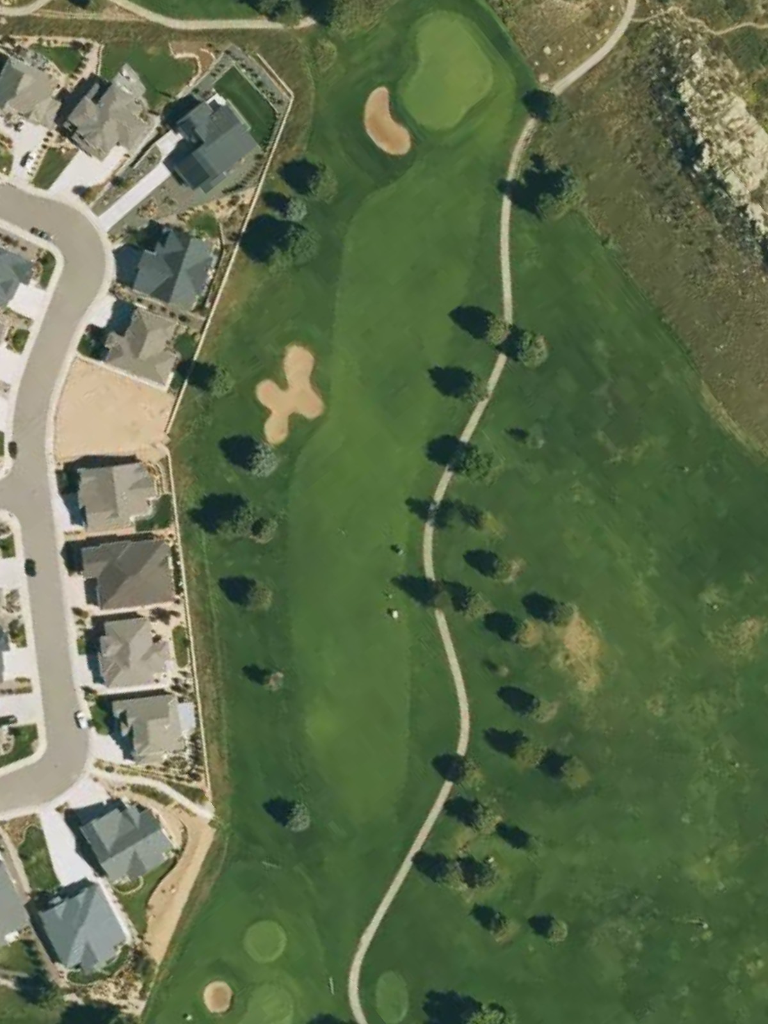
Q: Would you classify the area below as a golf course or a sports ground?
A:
golf course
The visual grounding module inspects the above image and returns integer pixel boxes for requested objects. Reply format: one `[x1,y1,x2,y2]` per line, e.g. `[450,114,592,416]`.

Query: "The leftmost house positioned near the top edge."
[0,50,66,132]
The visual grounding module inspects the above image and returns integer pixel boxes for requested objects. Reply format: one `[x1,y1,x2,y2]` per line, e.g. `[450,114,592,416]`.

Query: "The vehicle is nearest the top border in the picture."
[24,153,37,171]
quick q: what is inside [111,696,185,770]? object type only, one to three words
house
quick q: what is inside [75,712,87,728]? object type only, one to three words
vehicle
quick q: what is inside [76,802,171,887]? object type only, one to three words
house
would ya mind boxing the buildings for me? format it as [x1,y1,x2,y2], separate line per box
[39,880,127,972]
[0,864,34,951]
[0,50,66,132]
[99,302,179,388]
[0,248,32,311]
[80,463,158,532]
[98,618,171,688]
[57,56,162,163]
[128,224,215,310]
[76,802,171,887]
[81,538,176,610]
[0,625,9,680]
[111,696,185,770]
[171,102,256,193]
